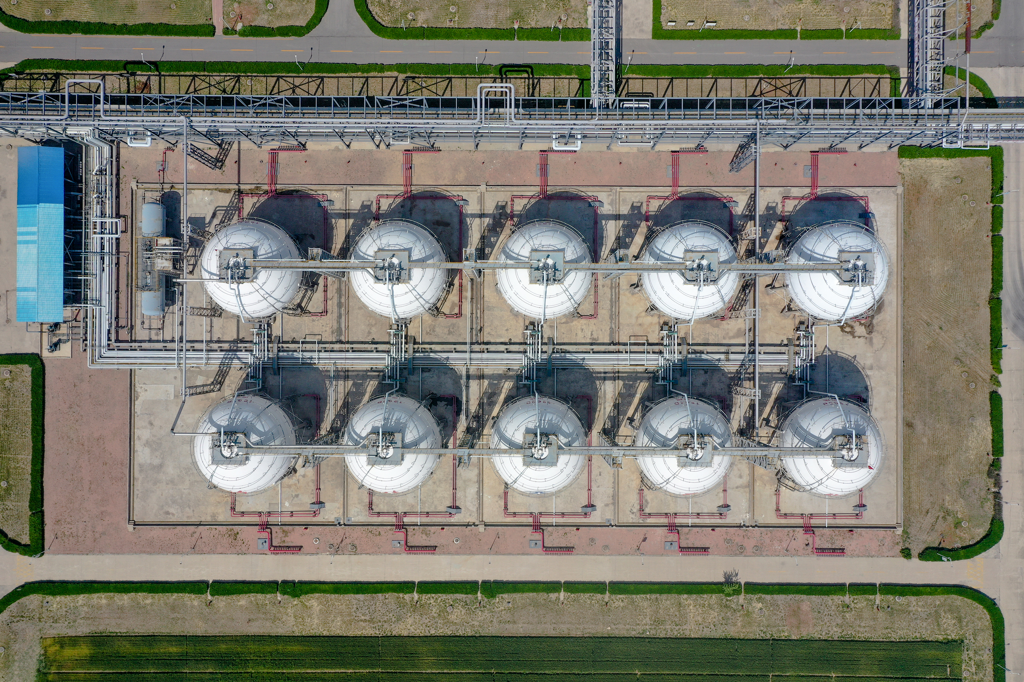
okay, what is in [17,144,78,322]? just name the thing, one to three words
shed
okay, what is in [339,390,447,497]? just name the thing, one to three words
storage tank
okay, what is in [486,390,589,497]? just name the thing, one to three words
storage tank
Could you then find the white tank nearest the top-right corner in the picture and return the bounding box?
[766,221,893,325]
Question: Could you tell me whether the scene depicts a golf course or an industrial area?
industrial area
